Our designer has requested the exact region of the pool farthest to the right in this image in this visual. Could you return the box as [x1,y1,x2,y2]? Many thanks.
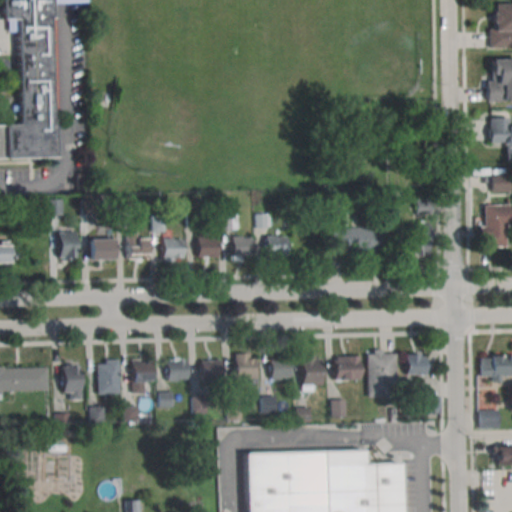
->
[138,396,154,413]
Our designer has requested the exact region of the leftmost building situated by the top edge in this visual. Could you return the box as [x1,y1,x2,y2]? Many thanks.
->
[0,0,90,158]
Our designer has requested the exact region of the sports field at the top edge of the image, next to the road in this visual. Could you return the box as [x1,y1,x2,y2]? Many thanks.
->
[91,0,434,192]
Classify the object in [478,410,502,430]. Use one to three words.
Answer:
building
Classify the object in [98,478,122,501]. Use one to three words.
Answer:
swimming pool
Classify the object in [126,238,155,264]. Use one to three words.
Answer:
house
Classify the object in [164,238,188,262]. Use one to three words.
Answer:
house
